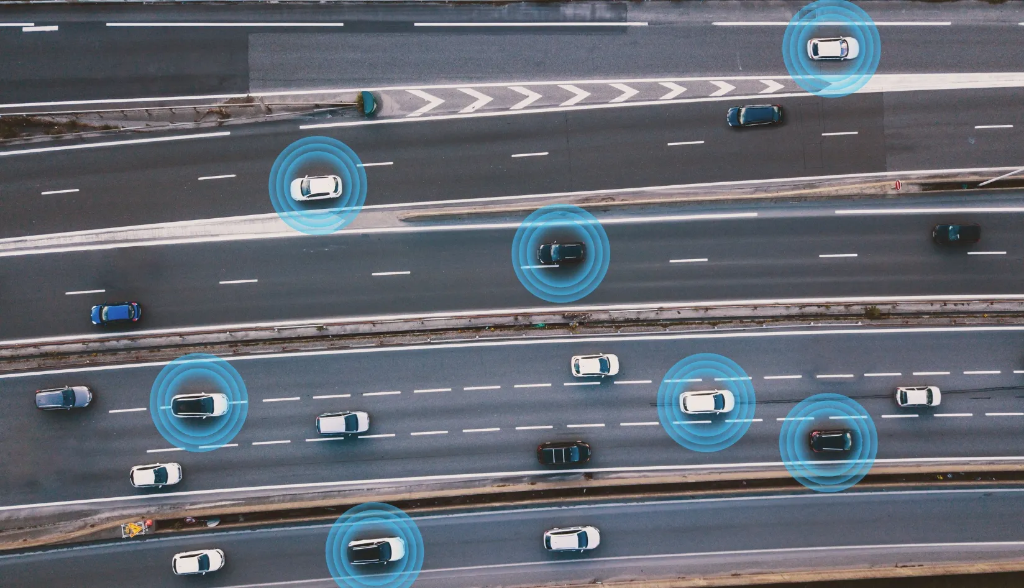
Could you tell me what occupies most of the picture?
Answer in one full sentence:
The largest share of the image is taken up by paved ground.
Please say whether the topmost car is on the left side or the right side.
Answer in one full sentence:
You can find the topmost car on the right side of the picture.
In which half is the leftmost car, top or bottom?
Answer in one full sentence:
The bottom half of the photo is where the leftmost car is.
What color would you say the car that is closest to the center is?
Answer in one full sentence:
The car that is closest to the center looks black in the image.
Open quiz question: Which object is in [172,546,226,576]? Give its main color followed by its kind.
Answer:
white car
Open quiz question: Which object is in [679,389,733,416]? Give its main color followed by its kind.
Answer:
white car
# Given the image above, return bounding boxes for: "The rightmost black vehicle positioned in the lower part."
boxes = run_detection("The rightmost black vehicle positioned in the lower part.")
[808,429,851,455]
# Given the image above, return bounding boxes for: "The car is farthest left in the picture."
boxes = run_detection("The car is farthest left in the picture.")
[36,383,94,410]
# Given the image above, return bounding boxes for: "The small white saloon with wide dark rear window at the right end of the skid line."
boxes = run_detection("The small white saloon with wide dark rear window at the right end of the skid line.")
[894,383,940,409]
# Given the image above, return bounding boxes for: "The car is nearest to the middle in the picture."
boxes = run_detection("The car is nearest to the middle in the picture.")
[537,239,586,265]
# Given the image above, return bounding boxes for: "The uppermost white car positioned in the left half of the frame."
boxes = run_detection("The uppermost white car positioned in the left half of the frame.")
[292,174,343,201]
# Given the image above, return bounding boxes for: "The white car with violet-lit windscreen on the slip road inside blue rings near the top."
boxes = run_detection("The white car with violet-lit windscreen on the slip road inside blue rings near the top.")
[807,33,859,61]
